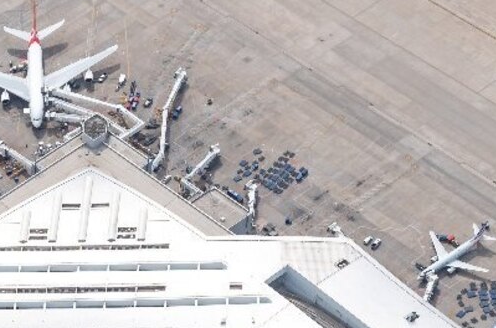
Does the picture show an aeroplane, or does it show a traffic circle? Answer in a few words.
aeroplane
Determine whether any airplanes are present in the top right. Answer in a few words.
No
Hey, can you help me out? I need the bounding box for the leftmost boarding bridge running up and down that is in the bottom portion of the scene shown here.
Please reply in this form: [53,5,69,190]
[243,183,258,231]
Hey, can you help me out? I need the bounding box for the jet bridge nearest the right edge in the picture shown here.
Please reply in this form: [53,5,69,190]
[423,273,437,299]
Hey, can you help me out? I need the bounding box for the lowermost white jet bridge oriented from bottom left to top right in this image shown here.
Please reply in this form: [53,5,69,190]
[183,146,218,198]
